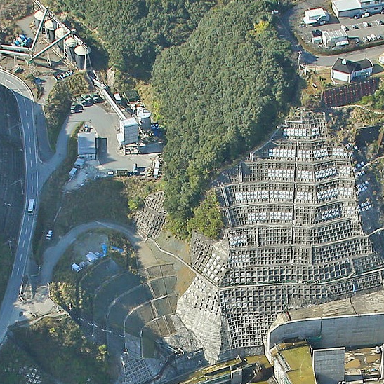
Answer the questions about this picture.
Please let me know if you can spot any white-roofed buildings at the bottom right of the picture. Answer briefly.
No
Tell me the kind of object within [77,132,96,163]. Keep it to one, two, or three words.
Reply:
shed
